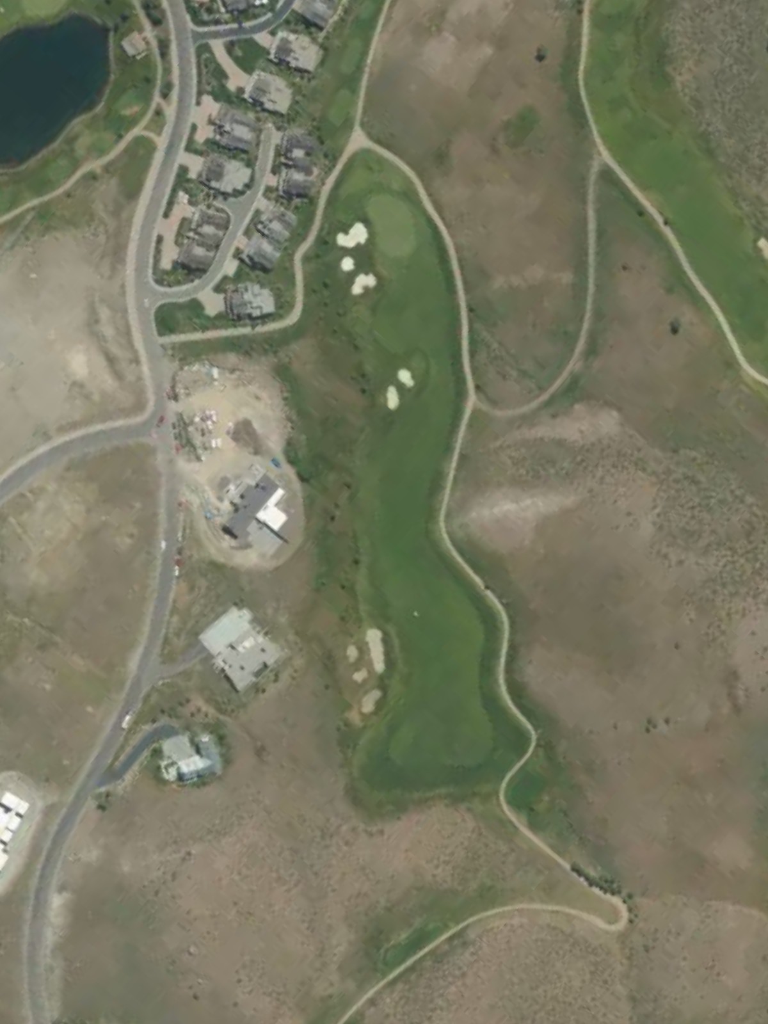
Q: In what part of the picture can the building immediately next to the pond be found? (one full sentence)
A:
You can find the building immediately next to the pond in the top left area of the picture.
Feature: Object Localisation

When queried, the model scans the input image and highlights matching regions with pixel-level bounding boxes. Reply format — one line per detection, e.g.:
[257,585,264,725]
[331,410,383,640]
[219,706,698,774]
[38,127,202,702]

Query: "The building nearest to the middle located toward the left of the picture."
[224,465,288,555]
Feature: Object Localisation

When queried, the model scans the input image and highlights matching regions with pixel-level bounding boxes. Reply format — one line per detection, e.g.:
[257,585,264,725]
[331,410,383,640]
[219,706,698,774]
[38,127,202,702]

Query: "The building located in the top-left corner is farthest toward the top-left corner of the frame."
[121,31,147,57]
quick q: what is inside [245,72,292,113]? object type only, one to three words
house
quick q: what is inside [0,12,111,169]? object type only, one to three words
pond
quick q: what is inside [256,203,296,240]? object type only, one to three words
house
